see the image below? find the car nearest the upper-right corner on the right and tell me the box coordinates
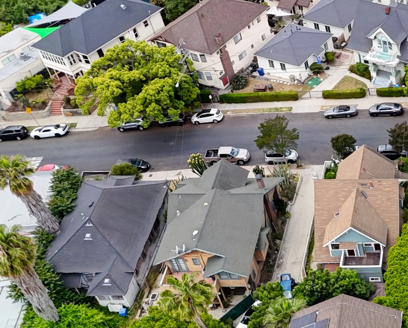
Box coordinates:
[368,101,404,117]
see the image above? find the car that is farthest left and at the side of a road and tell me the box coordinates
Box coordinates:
[0,120,33,142]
